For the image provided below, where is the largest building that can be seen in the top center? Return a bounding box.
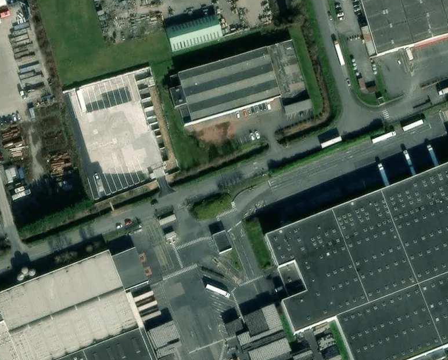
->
[178,45,279,128]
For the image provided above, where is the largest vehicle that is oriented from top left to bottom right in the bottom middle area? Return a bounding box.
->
[205,281,227,298]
